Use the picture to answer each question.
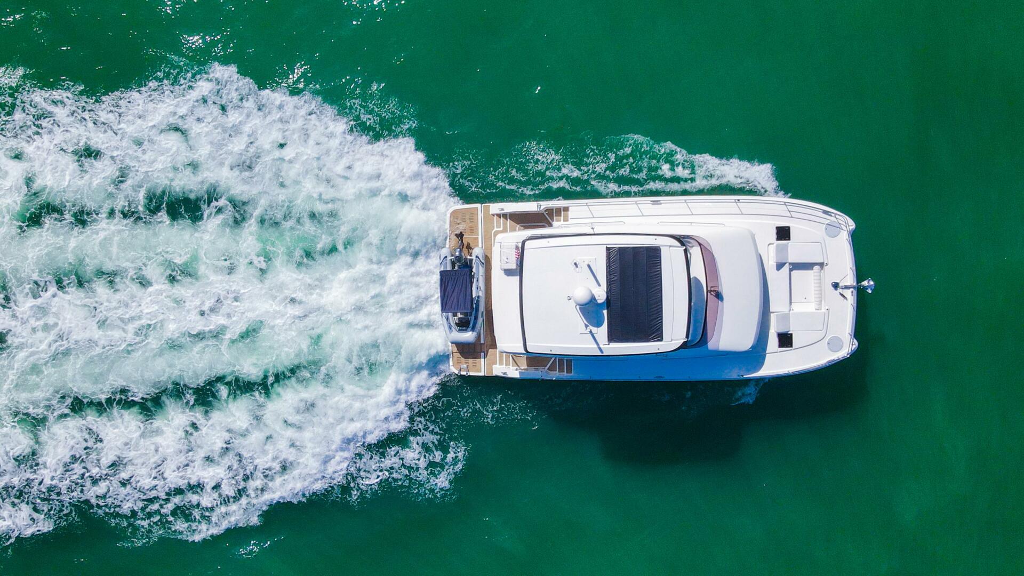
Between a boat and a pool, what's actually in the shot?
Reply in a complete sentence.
Visible in the photo is a boat.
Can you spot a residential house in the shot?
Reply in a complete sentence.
No, no residential house is visible in the view.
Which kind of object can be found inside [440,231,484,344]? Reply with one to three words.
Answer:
boat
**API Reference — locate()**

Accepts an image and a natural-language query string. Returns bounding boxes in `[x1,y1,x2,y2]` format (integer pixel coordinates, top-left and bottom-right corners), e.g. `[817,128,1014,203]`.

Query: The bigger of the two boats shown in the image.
[447,196,859,383]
